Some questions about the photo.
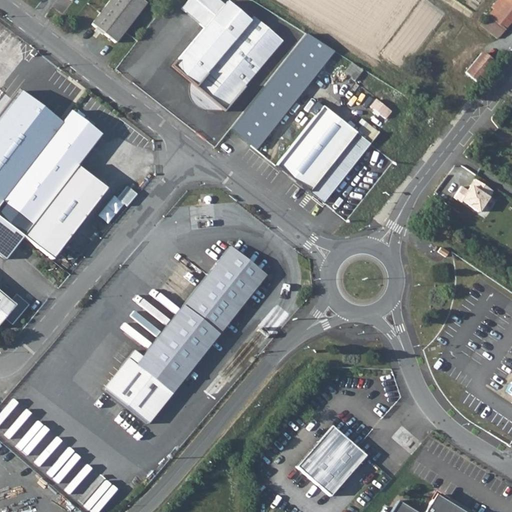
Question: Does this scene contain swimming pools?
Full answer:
No, no swimming pool is visible in the scene.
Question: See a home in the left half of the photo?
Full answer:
Yes, you'll find a home in the left half of the photo.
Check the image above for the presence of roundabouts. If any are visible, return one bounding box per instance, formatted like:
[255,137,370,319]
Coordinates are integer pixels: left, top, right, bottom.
[320,236,406,322]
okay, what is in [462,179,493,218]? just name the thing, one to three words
house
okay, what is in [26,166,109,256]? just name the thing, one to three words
building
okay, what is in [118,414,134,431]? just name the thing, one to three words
vehicle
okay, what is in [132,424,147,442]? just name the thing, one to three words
vehicle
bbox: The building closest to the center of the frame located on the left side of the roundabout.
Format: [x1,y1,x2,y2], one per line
[184,246,267,333]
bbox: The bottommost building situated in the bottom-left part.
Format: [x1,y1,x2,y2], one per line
[104,358,174,422]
